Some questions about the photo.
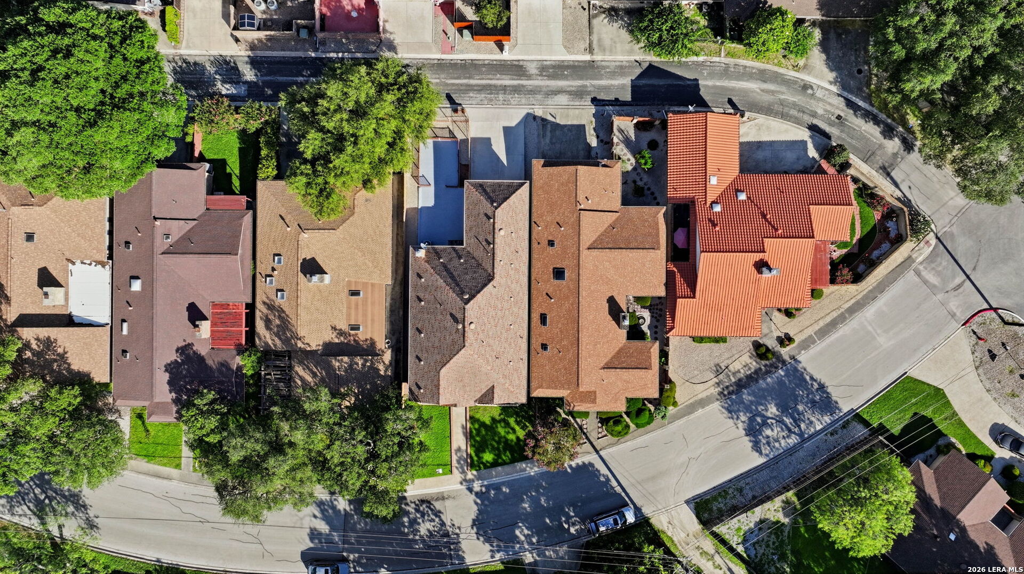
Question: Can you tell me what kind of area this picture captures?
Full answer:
This image shows a residential area.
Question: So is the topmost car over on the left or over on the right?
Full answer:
The topmost car appears in the right half of the scene.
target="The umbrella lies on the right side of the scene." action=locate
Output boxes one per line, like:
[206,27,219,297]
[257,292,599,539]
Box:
[671,229,691,248]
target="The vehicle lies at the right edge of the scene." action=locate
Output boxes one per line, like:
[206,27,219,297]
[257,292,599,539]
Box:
[994,434,1024,462]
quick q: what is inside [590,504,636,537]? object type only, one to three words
car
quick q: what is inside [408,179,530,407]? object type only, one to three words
house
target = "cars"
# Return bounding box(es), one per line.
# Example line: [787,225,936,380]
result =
[590,504,636,537]
[994,434,1024,462]
[307,561,351,574]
